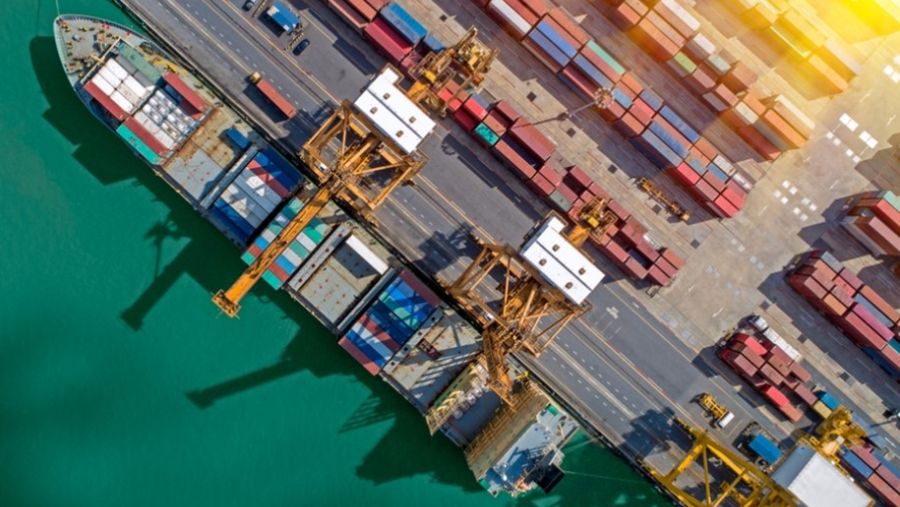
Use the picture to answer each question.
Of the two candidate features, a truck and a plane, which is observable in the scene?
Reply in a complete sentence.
It is a truck that can be seen here.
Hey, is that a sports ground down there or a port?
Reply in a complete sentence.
This looks like a port.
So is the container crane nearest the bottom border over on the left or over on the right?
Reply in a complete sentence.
The container crane nearest the bottom border appears in the right half of the scene.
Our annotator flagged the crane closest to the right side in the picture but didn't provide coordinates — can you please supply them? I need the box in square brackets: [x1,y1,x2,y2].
[636,401,876,507]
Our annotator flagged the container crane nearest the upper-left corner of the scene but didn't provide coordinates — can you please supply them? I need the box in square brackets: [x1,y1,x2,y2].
[213,21,502,322]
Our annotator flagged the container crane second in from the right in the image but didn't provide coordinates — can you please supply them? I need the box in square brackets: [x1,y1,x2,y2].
[433,190,626,421]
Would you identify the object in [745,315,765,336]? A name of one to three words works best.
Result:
vehicle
